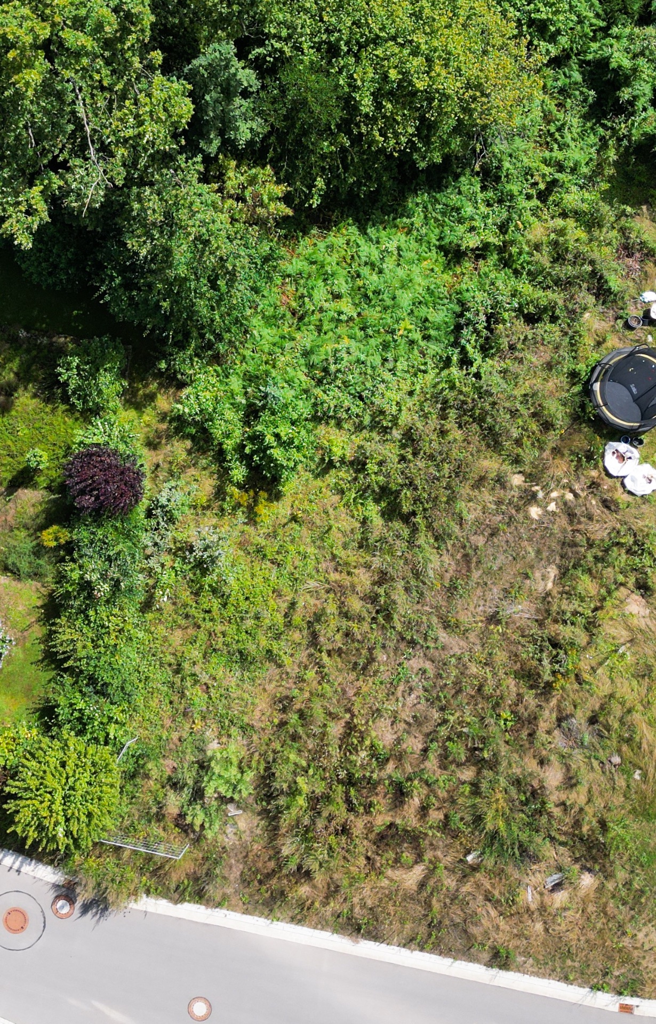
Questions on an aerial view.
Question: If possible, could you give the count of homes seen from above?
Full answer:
I count no homes.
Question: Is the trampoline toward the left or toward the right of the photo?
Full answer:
The trampoline is on the right side of the image.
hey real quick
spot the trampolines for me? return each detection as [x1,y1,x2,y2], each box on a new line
[586,335,656,435]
